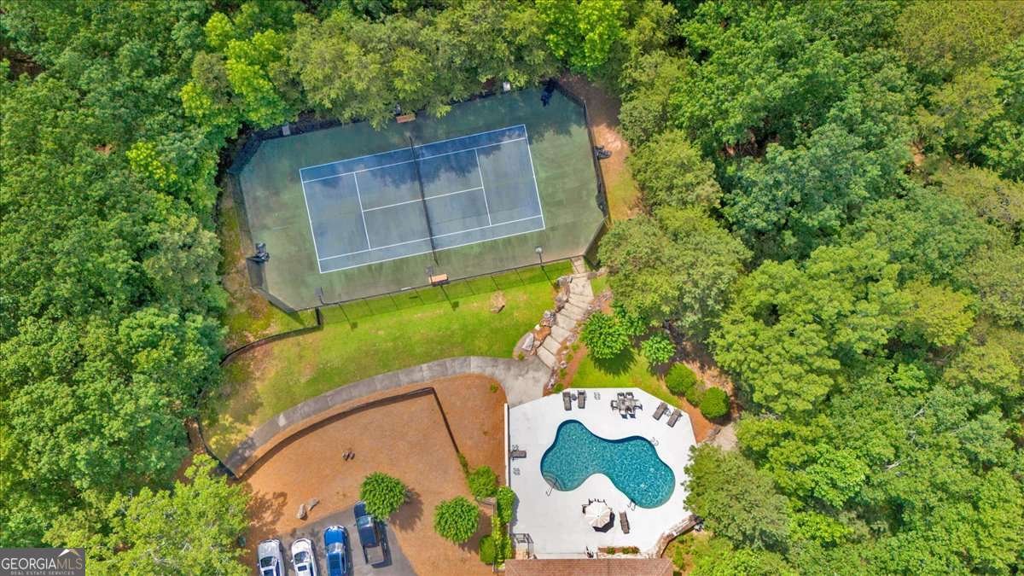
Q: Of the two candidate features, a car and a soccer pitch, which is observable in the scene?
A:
car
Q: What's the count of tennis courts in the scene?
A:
1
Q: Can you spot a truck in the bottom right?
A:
No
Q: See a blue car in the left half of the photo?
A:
Yes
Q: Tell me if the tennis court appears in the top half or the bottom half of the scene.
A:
top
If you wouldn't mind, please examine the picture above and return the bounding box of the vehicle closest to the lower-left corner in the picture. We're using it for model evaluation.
[259,538,286,576]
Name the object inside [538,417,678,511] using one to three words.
swimming pool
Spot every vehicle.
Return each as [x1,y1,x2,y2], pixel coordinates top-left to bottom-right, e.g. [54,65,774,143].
[353,501,385,565]
[291,536,317,576]
[259,538,286,576]
[323,524,349,576]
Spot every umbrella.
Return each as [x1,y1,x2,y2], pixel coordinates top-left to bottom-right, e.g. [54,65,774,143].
[585,500,611,526]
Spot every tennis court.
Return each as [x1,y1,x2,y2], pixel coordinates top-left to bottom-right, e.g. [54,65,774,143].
[240,84,608,310]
